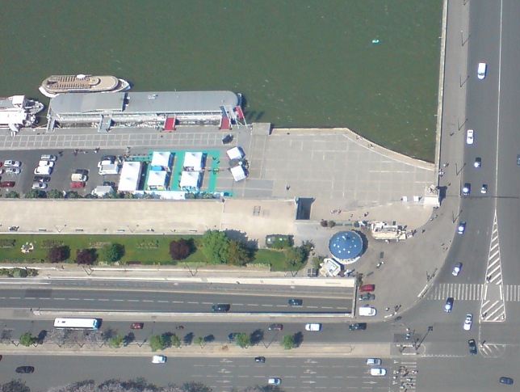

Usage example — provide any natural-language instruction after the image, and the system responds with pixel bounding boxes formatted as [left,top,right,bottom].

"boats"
[0,111,35,128]
[39,71,130,97]
[0,90,45,114]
